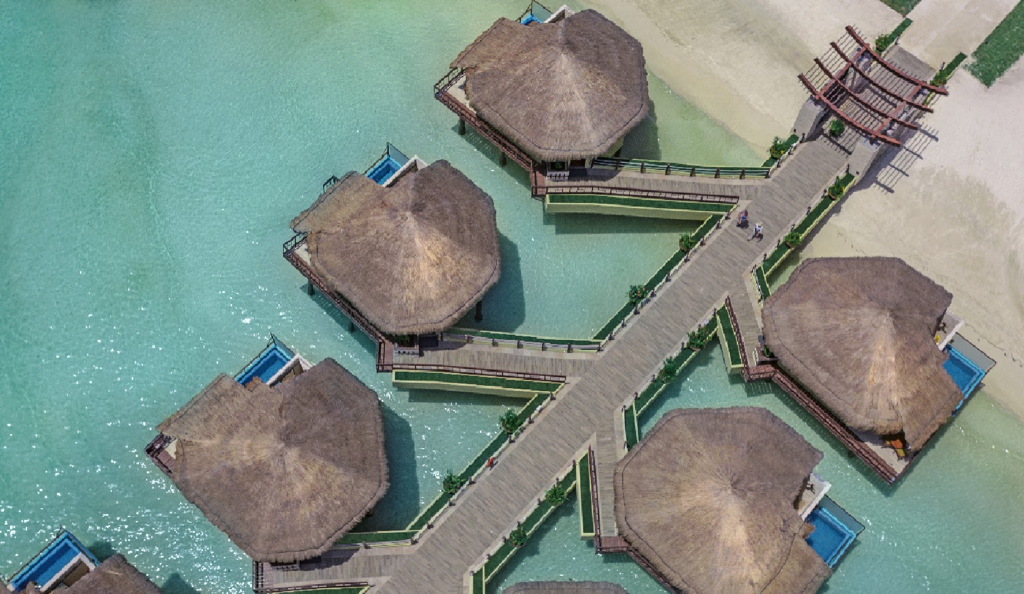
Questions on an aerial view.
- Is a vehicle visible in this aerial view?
No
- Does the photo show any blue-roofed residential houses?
No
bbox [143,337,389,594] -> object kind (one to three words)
house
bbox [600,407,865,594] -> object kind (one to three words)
house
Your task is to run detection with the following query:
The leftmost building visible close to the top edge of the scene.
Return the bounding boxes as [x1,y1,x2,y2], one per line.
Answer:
[433,0,646,198]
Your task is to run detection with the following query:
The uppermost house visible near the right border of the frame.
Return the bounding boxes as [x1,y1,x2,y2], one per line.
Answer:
[744,253,997,493]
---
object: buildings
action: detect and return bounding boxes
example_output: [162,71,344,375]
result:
[143,337,389,594]
[0,527,161,594]
[600,407,865,594]
[433,0,646,198]
[495,578,627,594]
[275,144,502,372]
[744,253,997,493]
